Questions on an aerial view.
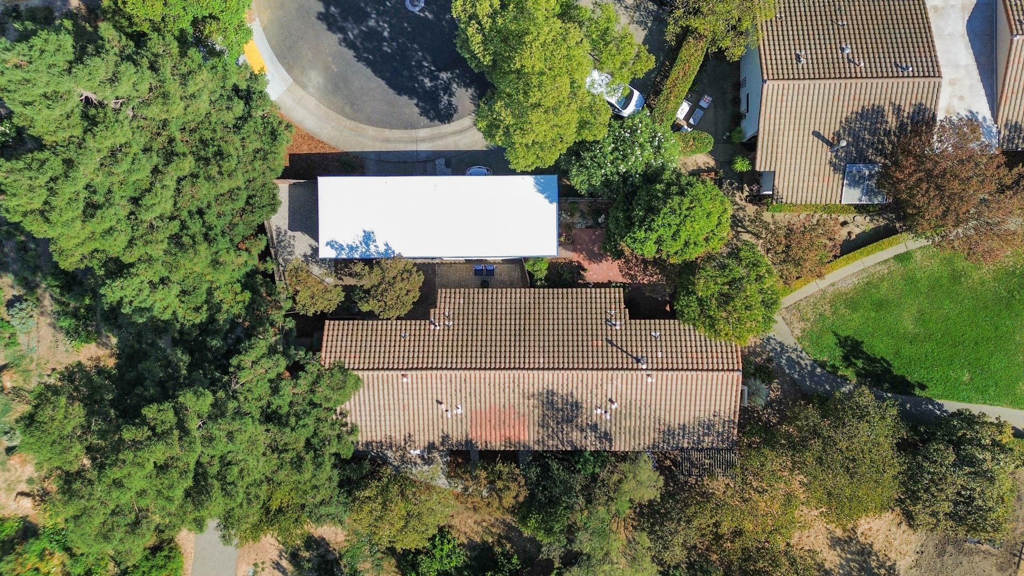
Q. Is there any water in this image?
No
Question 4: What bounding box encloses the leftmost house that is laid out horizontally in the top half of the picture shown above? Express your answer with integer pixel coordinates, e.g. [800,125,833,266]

[317,174,559,262]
